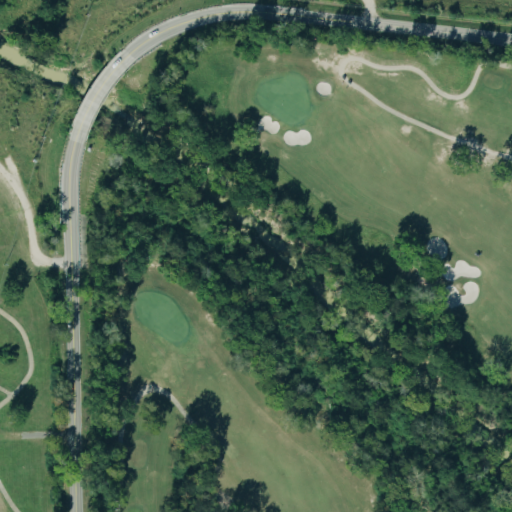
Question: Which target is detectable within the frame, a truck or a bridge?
bridge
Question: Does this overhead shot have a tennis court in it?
No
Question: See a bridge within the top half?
Yes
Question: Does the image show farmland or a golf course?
golf course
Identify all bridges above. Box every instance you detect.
[70,48,135,142]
